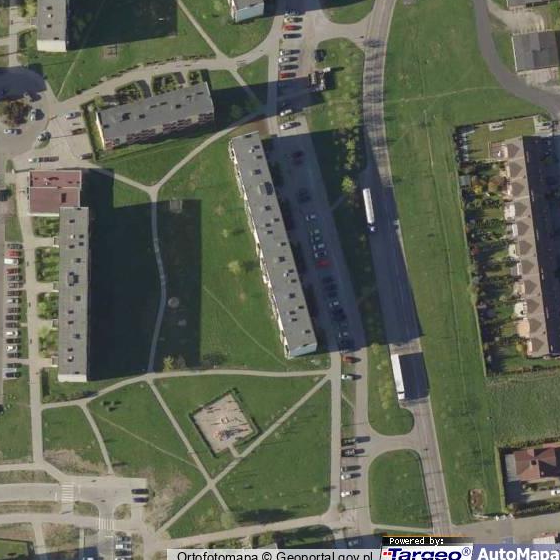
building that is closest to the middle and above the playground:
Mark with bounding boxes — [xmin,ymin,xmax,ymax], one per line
[226,133,317,358]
